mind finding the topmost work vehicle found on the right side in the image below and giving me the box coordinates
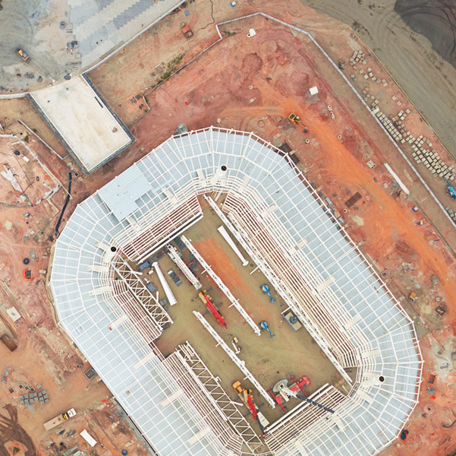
[287,112,307,133]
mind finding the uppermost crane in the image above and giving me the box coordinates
[165,244,202,290]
